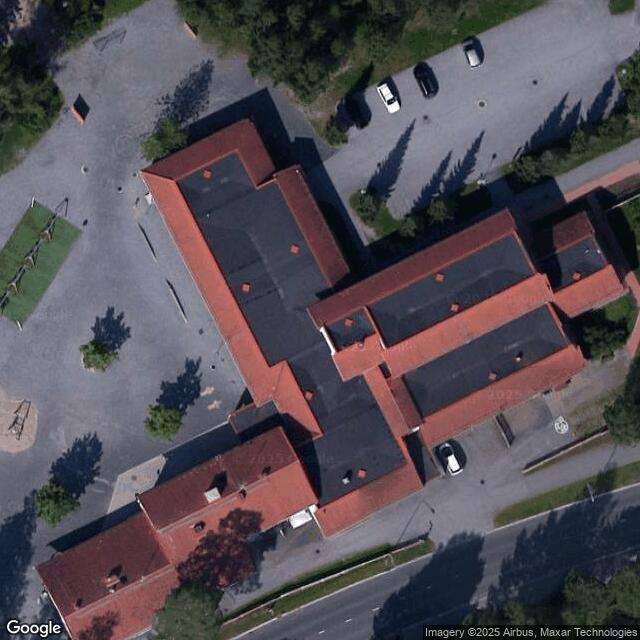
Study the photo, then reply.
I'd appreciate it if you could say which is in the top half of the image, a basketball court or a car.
car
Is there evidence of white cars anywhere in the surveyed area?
Yes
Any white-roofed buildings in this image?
No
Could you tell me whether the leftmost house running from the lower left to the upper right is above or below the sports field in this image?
below it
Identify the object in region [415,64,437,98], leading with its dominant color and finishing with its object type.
black car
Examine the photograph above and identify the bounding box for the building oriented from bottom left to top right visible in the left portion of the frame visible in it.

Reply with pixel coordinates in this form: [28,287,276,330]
[36,425,318,640]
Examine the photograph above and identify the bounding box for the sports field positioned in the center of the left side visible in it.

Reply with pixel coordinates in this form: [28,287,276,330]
[0,200,82,321]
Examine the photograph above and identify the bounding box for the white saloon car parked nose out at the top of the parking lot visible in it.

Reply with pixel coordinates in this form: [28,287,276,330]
[376,82,401,114]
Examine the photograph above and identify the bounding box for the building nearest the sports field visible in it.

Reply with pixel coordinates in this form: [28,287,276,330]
[141,118,441,539]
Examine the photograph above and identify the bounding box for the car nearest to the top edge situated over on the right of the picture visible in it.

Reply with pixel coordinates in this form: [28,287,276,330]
[463,40,482,69]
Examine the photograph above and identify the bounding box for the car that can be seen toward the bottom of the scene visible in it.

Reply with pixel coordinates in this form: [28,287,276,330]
[438,441,461,476]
